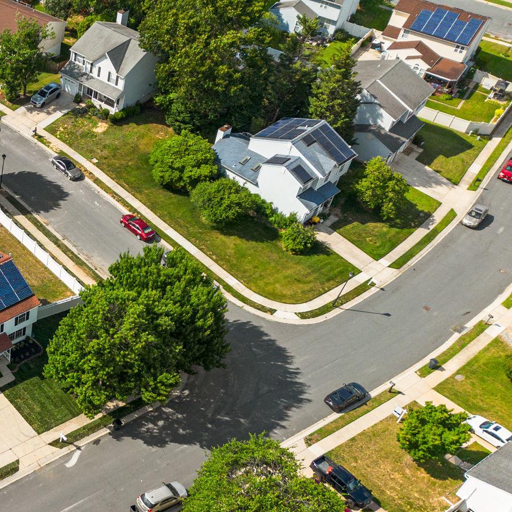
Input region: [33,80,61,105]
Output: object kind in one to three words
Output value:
car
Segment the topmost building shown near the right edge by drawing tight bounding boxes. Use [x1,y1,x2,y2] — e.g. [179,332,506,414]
[377,0,493,94]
